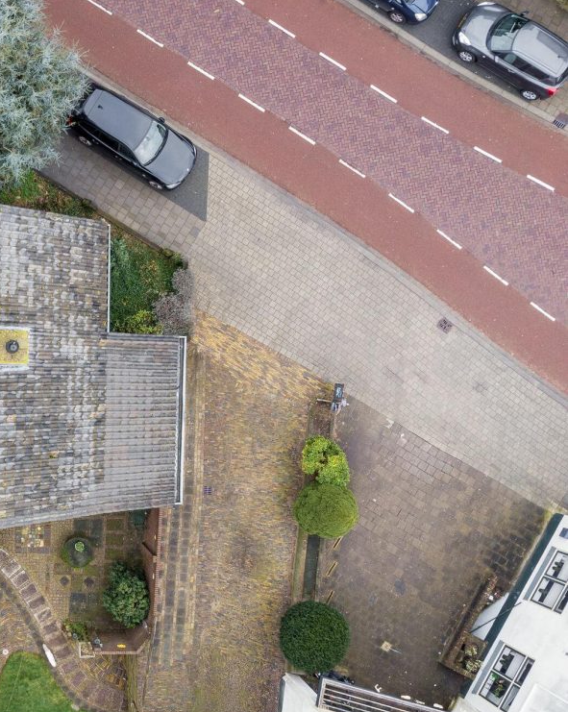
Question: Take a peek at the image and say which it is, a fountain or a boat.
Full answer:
I can see a fountain in this picture.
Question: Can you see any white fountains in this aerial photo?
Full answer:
No, I can see no white fountain in this picture.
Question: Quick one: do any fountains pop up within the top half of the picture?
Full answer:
No, within the top half of the picture there is no fountain.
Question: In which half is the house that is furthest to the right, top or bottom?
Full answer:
It is in the bottom half that the house that is furthest to the right appears.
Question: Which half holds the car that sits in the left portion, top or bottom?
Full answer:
You can find the car that sits in the left portion in the top half.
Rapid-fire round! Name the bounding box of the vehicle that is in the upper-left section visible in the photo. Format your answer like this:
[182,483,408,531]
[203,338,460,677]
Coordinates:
[68,81,198,194]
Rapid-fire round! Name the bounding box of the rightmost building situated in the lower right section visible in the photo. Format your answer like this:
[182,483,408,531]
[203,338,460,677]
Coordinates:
[444,504,568,712]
